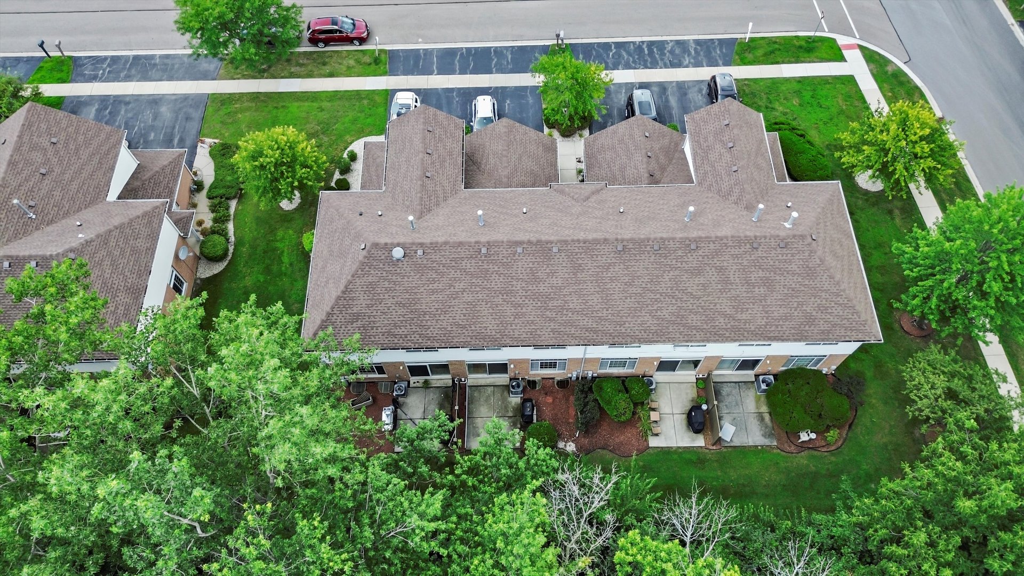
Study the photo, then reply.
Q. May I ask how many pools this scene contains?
0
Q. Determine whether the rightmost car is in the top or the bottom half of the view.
top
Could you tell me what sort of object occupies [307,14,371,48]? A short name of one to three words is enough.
car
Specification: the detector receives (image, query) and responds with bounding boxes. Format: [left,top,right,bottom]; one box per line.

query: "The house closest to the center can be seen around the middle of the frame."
[304,97,886,391]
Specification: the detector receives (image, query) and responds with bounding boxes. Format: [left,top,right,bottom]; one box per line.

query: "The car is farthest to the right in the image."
[702,76,737,105]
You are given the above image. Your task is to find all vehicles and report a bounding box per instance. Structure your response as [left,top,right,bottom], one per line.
[394,93,422,118]
[469,95,500,134]
[702,76,737,105]
[624,92,660,125]
[307,14,371,48]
